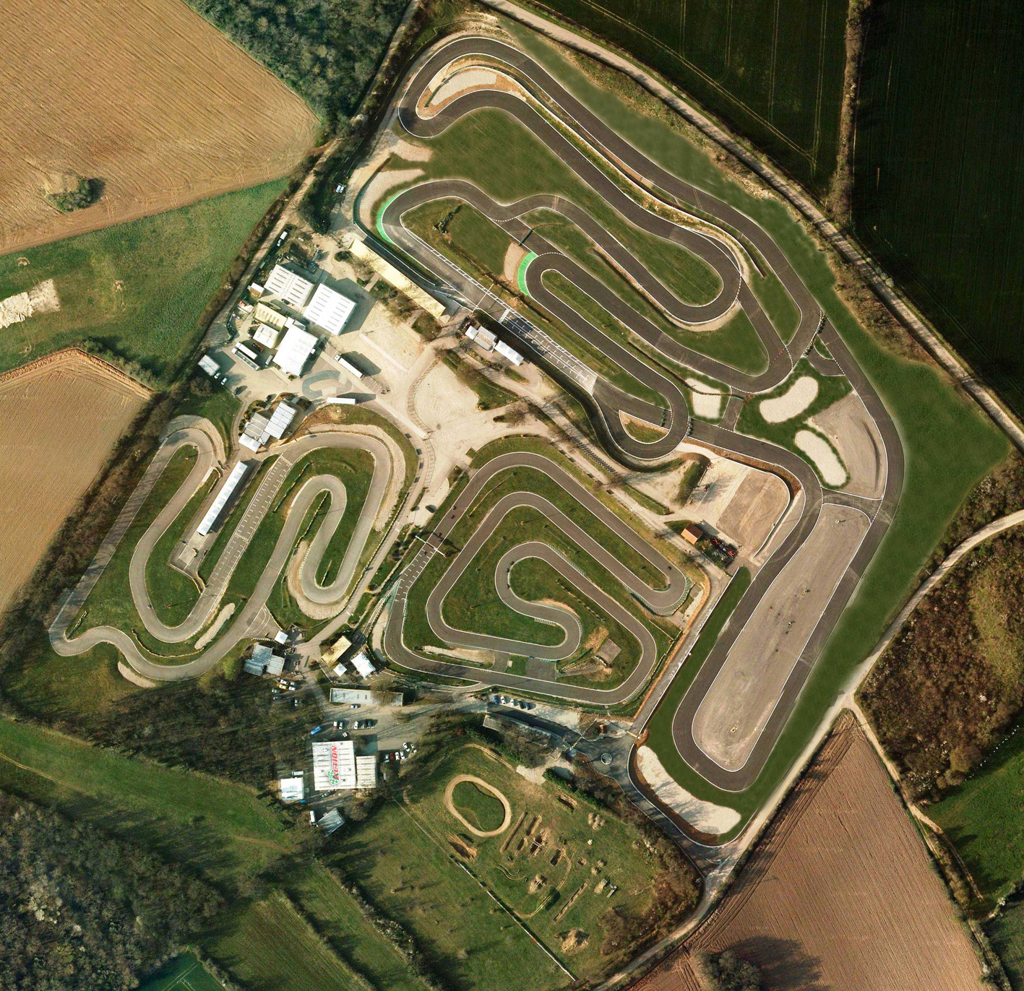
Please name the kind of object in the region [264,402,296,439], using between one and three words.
building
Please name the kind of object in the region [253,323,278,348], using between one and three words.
house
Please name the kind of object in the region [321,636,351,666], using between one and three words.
building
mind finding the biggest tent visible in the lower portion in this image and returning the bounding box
[351,652,375,680]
